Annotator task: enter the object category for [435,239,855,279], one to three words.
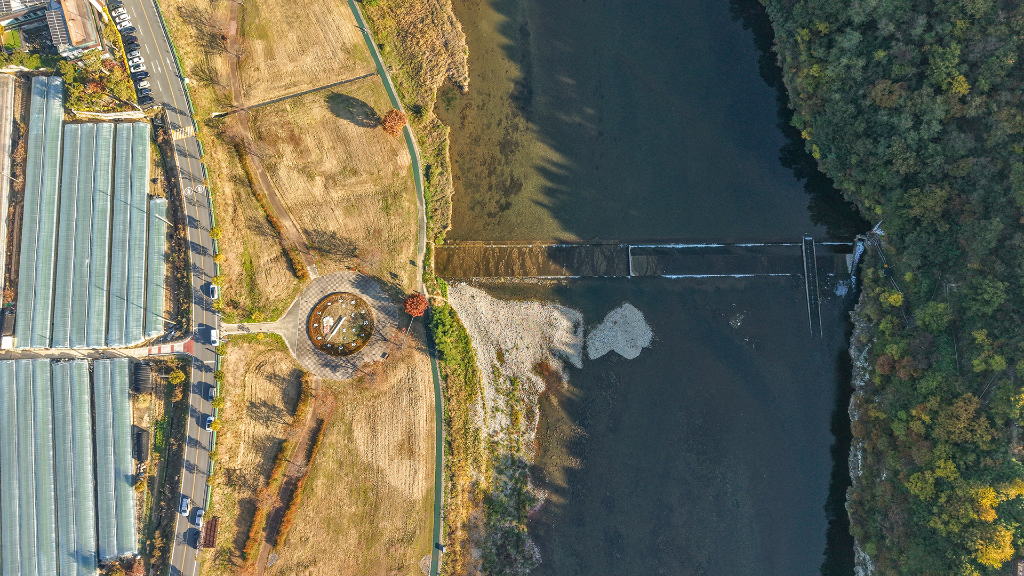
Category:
dam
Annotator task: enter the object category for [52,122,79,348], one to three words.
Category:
greenhouse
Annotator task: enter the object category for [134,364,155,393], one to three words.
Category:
shed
